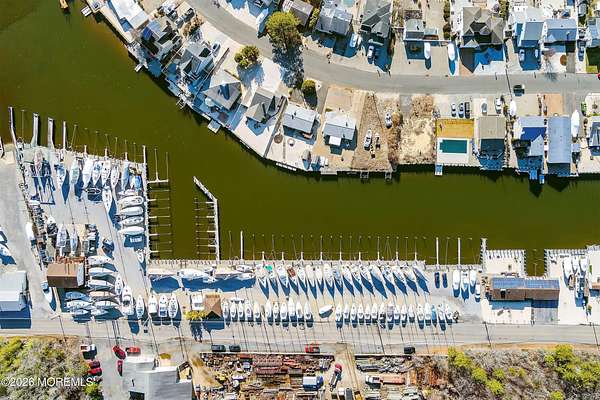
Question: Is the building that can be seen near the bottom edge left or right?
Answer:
left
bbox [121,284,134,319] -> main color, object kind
white boat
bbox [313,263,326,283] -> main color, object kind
white boat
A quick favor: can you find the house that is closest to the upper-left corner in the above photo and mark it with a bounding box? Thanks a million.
[105,0,151,32]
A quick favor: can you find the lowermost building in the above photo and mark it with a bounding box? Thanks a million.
[121,358,193,400]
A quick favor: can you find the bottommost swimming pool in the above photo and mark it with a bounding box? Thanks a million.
[438,139,468,155]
